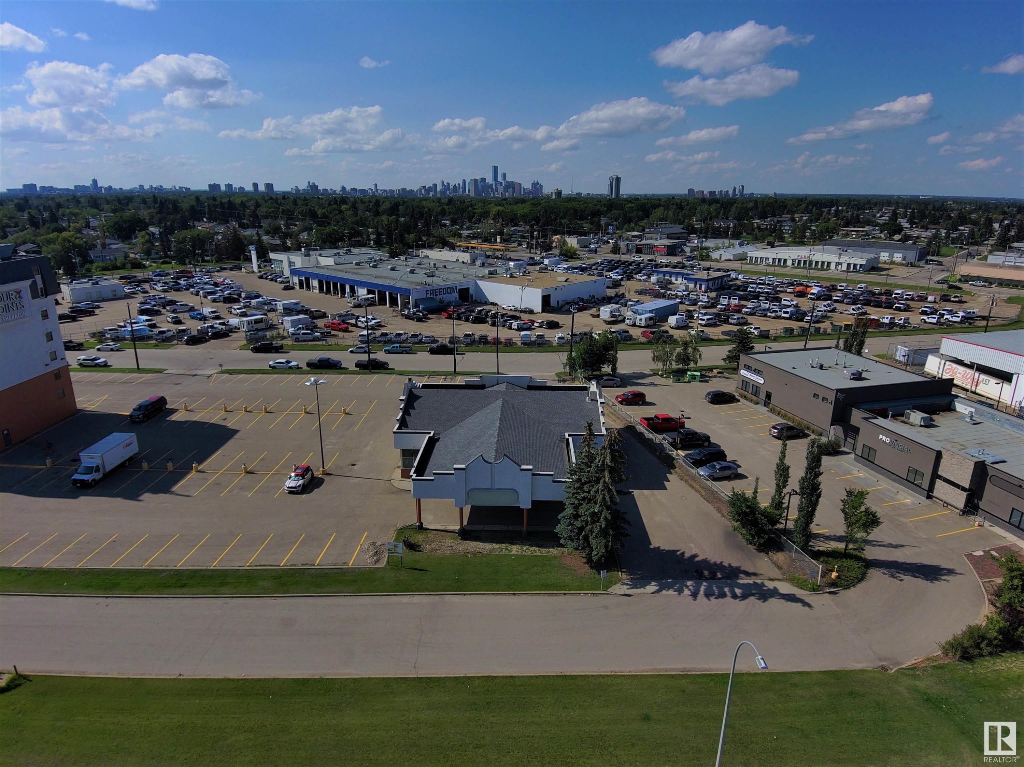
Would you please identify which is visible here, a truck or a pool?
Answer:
truck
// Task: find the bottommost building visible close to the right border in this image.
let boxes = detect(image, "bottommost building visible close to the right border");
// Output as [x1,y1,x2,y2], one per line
[829,399,1024,539]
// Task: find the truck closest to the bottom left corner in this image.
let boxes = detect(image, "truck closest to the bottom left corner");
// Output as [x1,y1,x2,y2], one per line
[68,431,145,491]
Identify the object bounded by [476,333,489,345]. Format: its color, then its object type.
black vehicle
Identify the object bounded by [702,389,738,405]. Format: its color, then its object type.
black car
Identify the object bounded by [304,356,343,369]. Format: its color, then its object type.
black vehicle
